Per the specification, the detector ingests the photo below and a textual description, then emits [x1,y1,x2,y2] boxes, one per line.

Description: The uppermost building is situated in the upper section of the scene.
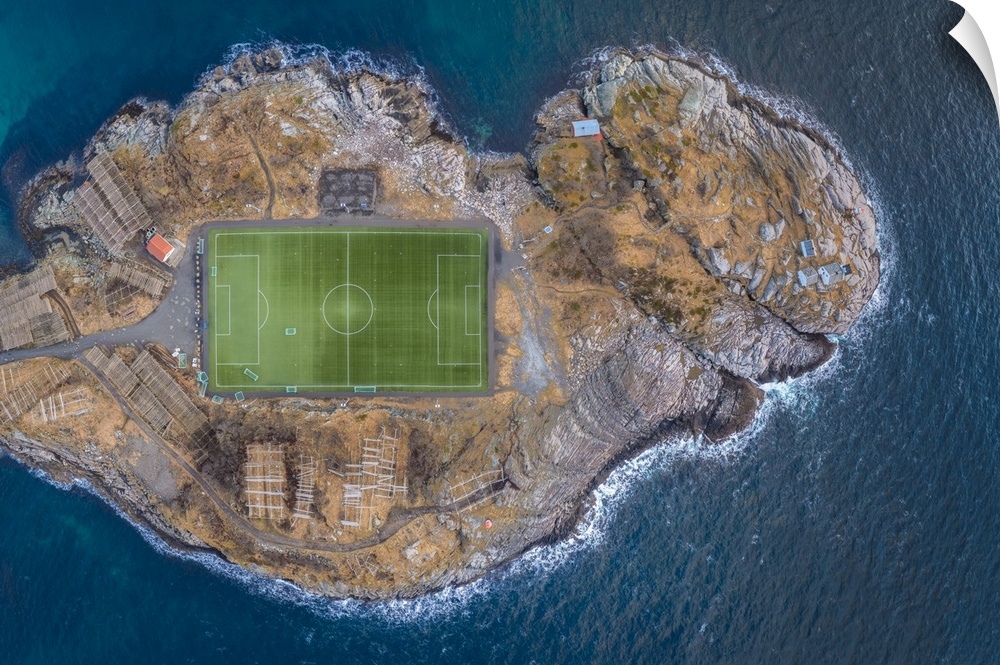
[573,116,601,136]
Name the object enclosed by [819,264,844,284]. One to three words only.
house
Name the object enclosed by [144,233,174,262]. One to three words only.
house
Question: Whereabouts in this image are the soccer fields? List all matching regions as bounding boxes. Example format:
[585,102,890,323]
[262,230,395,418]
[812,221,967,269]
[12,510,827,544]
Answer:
[208,228,488,393]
